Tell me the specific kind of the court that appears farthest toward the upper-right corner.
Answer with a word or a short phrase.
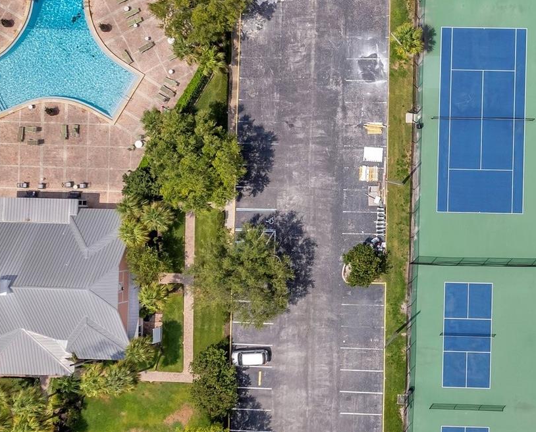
tennis court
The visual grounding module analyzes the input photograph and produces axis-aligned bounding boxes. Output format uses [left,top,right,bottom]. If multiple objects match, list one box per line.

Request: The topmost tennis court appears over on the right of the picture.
[431,26,533,213]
